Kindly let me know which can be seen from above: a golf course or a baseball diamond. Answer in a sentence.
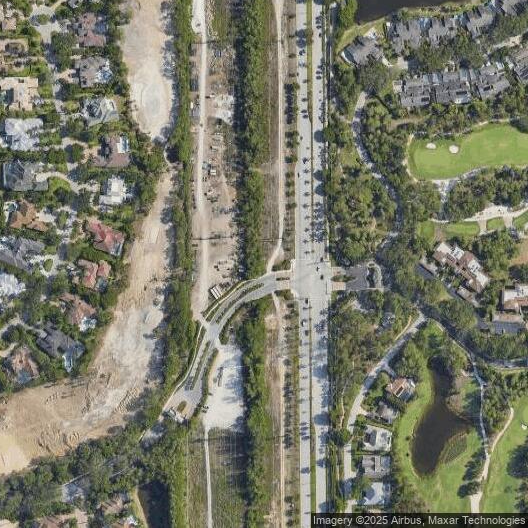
It is a golf course that can be seen here.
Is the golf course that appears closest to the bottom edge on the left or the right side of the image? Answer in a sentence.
You can find the golf course that appears closest to the bottom edge on the right side of the picture.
